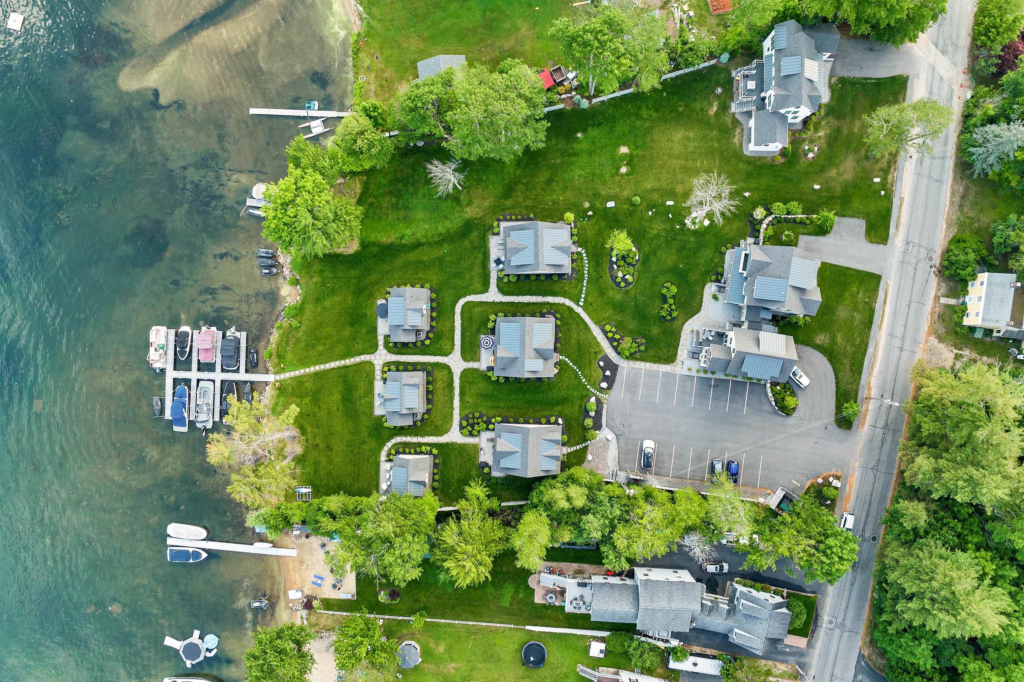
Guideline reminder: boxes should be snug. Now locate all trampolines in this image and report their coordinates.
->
[522,642,548,672]
[165,628,220,667]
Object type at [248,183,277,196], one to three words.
boat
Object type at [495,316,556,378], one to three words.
house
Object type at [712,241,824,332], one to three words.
house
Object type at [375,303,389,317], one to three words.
umbrella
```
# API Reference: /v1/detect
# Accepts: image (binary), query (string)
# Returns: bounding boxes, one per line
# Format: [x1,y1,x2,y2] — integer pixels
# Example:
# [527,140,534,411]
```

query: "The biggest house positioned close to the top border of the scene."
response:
[730,18,846,149]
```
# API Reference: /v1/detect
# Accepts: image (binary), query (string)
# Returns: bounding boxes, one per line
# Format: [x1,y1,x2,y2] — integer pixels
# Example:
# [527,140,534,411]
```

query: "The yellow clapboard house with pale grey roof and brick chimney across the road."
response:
[960,266,1024,343]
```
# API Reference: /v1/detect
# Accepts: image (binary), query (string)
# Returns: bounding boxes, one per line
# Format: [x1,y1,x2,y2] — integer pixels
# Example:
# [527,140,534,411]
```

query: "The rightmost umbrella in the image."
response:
[479,335,495,350]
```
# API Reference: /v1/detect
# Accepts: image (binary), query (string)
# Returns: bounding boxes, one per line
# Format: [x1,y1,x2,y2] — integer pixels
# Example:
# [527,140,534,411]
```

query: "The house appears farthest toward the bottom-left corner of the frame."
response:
[393,456,430,498]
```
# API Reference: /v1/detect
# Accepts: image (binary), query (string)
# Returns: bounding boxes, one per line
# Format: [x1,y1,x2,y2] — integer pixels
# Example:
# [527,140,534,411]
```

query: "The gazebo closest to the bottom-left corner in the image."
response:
[395,641,423,675]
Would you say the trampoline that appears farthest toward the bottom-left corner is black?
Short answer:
No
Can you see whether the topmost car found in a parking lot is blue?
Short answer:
No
